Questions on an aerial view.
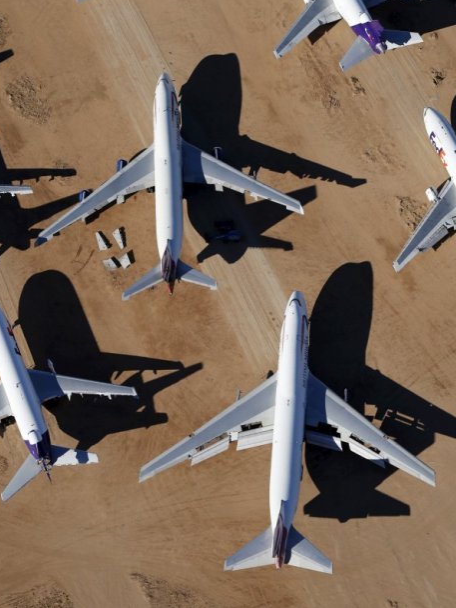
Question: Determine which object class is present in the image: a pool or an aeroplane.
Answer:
aeroplane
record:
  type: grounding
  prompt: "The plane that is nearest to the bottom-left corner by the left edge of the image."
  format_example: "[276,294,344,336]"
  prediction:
[0,310,139,502]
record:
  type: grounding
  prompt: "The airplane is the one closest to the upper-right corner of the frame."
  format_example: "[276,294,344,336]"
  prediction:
[272,0,425,69]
